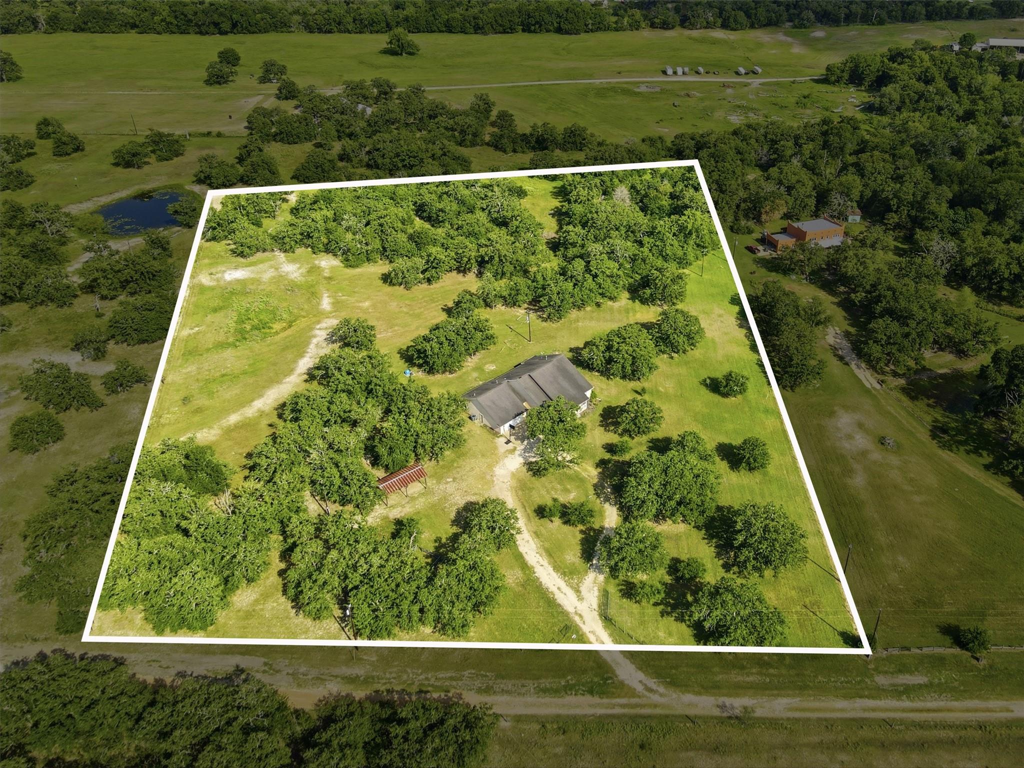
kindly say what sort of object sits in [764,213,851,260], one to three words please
building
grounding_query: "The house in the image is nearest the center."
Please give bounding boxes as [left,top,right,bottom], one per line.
[453,358,597,437]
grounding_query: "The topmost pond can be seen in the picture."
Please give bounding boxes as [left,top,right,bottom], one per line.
[101,193,190,236]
